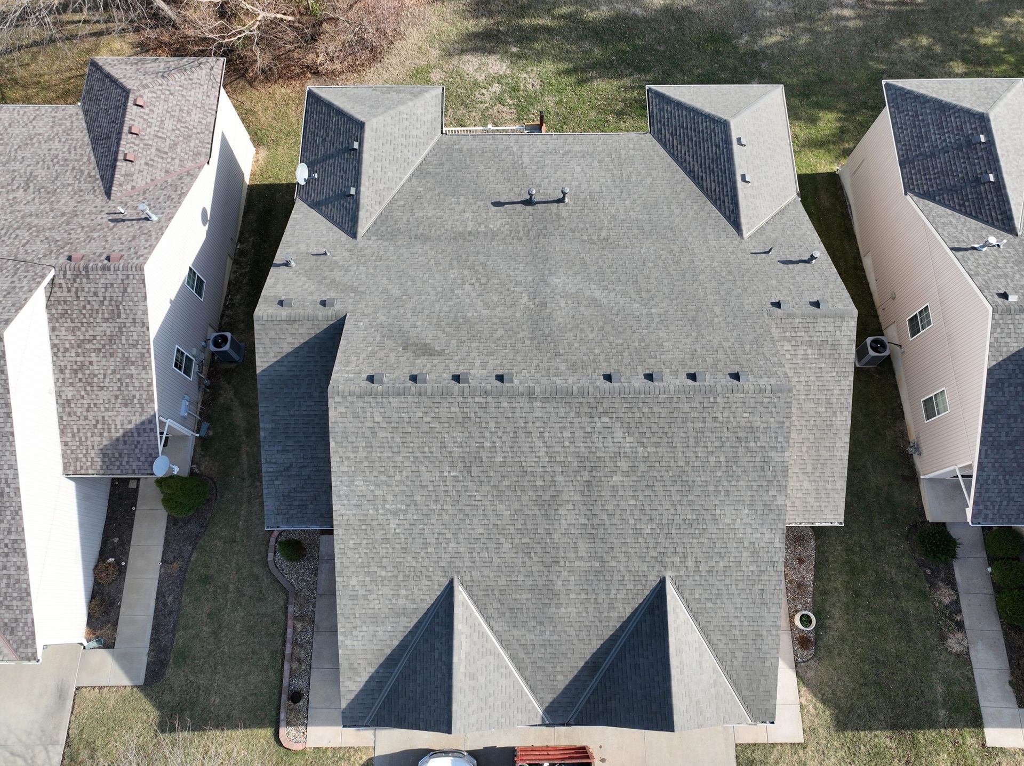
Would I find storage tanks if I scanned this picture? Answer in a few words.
No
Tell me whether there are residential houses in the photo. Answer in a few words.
Yes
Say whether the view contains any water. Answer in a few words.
No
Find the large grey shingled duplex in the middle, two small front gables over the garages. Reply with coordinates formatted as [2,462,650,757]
[253,82,858,735]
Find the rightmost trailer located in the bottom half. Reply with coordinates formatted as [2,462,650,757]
[516,745,592,766]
